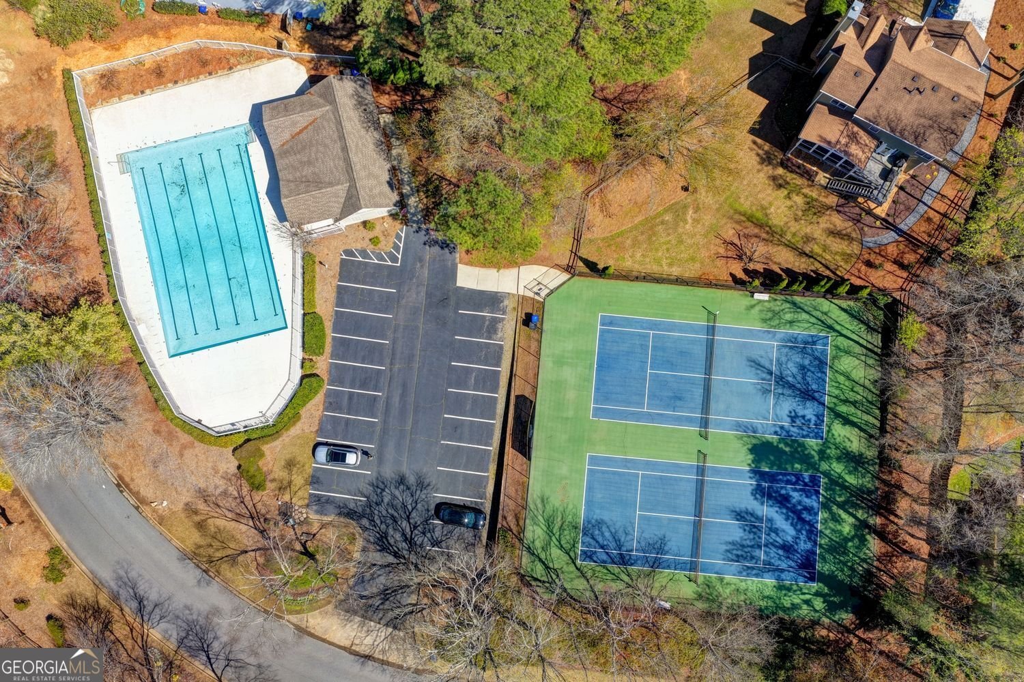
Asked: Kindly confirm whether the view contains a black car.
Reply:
Yes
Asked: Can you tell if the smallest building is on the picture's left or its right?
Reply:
left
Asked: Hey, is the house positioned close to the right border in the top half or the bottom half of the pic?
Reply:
top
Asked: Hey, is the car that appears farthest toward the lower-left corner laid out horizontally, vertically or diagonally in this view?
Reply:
horizontally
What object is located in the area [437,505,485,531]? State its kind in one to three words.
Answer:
car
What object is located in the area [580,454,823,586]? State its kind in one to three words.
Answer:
tennis court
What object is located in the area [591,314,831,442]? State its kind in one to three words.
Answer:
tennis court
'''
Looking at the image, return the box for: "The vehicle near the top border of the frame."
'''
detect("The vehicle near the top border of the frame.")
[932,0,960,20]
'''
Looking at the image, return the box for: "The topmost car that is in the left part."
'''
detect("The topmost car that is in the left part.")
[314,445,360,468]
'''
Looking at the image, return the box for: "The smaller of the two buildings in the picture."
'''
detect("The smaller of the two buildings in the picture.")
[262,75,400,229]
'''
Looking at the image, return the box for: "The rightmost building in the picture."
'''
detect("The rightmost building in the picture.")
[783,0,991,210]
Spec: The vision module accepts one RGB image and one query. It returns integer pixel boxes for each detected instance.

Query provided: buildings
[262,75,400,229]
[783,0,991,210]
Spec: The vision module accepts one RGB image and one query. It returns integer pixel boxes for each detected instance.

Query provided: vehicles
[314,445,360,468]
[932,0,960,20]
[437,505,485,531]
